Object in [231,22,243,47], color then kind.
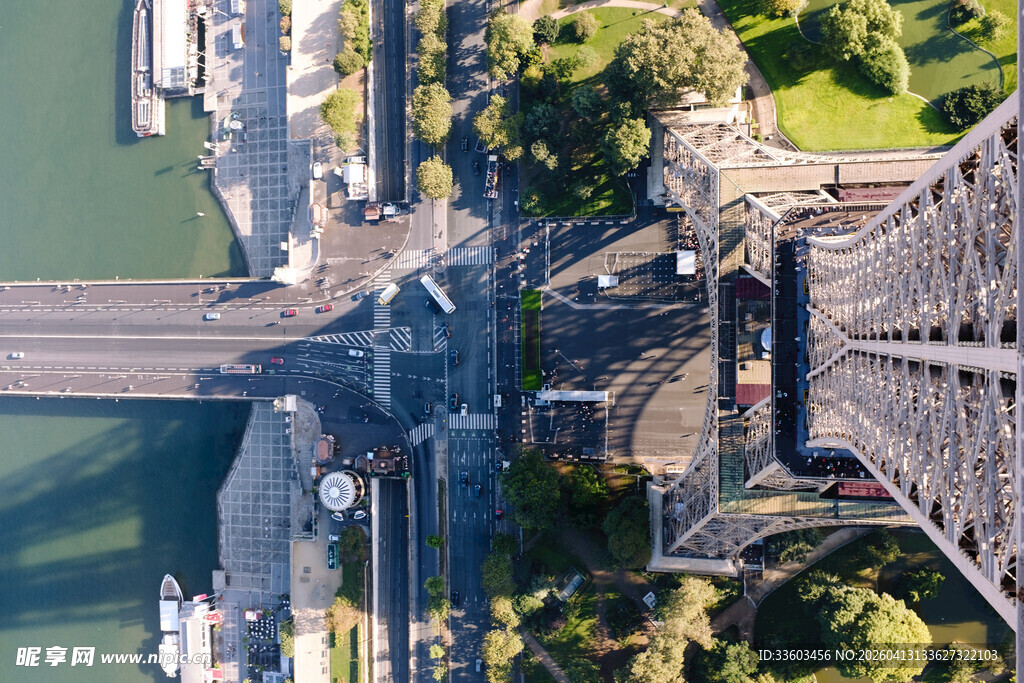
white vehicle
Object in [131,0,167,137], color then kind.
white boat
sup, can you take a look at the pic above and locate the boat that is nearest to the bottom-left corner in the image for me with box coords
[159,573,185,677]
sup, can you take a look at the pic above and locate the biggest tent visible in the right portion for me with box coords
[677,251,696,275]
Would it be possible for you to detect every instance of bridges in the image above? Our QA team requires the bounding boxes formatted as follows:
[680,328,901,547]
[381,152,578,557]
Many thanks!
[0,277,299,403]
